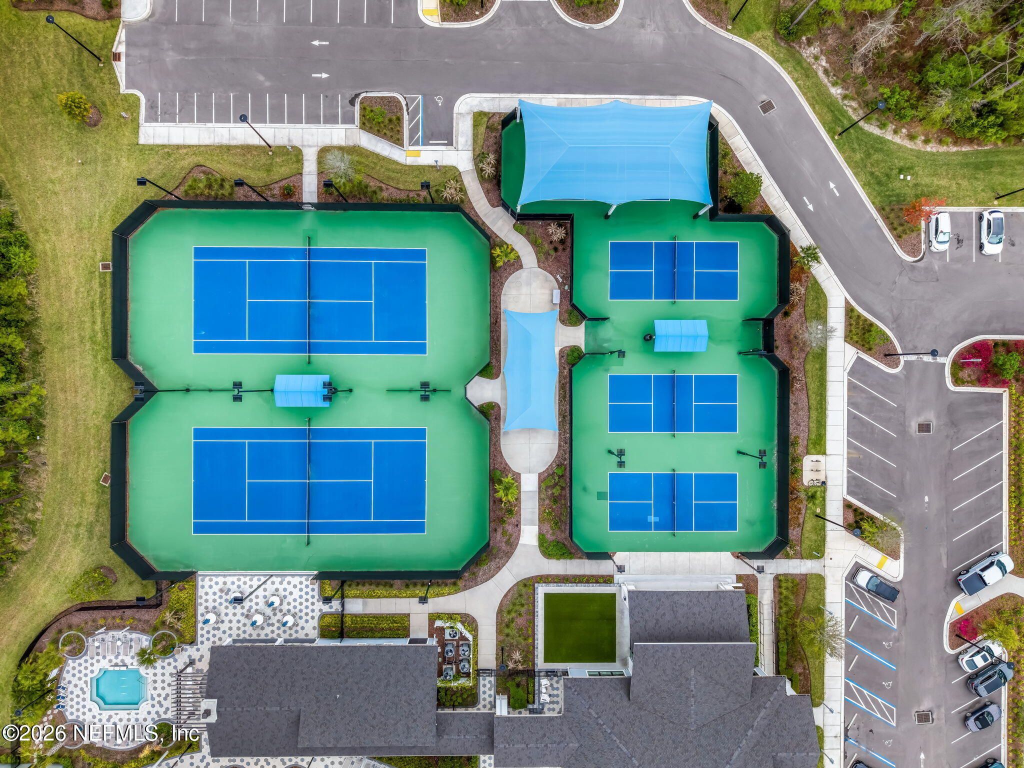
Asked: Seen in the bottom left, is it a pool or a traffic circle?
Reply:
pool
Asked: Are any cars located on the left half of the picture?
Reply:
No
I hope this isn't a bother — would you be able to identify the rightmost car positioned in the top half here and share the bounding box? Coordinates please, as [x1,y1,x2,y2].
[978,211,1004,254]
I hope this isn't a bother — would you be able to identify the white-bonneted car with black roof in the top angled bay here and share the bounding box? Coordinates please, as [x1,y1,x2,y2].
[852,567,903,605]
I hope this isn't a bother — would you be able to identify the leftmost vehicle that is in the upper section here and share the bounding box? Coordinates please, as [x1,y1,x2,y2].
[926,213,950,252]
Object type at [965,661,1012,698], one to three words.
car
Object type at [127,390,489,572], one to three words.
tennis court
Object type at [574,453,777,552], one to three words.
sports court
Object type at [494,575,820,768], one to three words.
building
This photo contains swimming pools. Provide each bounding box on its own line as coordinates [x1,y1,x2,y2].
[87,666,152,714]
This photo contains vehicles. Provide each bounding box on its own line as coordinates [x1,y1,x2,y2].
[965,661,1012,698]
[975,756,1006,768]
[955,553,1012,594]
[962,699,1001,731]
[978,211,1004,254]
[852,567,903,605]
[955,638,1001,674]
[926,213,950,252]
